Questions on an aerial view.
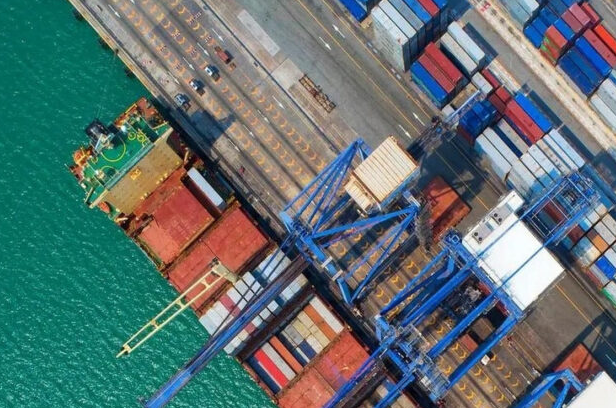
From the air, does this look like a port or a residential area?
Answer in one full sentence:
What you see here is a port.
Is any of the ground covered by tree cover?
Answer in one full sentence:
No, the picture contains no tree cover.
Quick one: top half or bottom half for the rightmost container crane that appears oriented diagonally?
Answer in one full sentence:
It is in the bottom half that the rightmost container crane that appears oriented diagonally appears.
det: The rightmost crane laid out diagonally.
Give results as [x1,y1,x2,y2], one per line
[327,167,616,408]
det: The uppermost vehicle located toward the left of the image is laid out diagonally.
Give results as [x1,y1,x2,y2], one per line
[210,39,230,61]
